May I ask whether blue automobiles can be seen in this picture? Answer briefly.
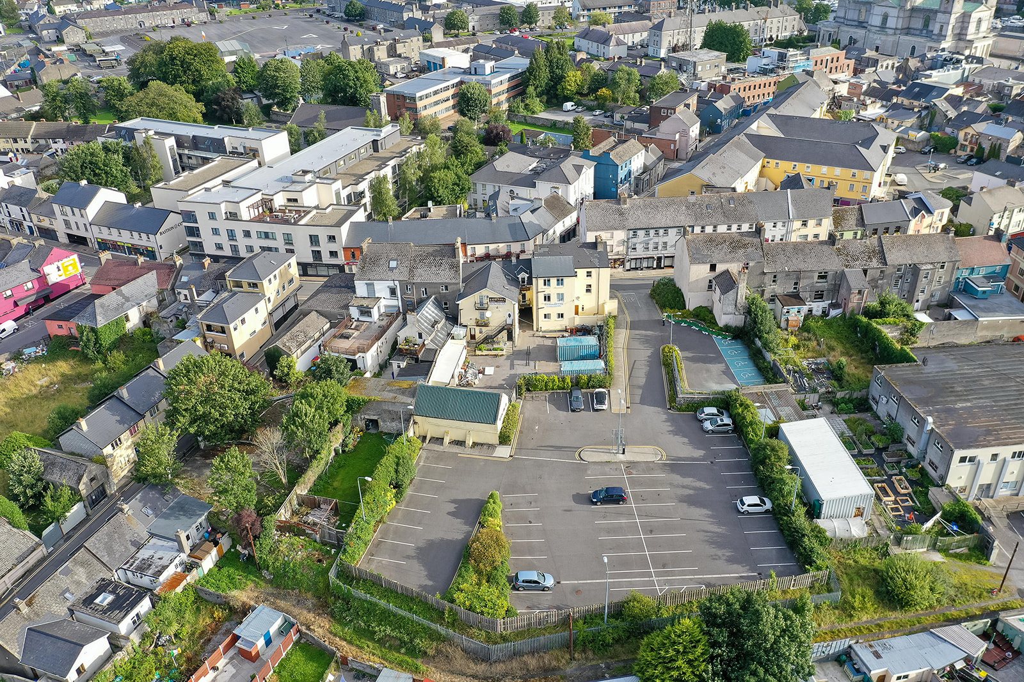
Yes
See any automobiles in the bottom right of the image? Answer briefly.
Yes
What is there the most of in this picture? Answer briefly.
buildings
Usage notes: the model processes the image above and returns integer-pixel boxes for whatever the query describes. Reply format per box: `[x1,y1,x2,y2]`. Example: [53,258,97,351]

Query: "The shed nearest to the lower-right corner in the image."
[985,601,1024,667]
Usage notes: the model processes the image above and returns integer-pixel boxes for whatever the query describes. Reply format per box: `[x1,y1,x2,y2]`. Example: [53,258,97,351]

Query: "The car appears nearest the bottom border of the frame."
[512,570,555,594]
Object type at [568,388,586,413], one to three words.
car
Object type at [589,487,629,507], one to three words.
car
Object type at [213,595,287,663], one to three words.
shed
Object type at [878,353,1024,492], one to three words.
building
